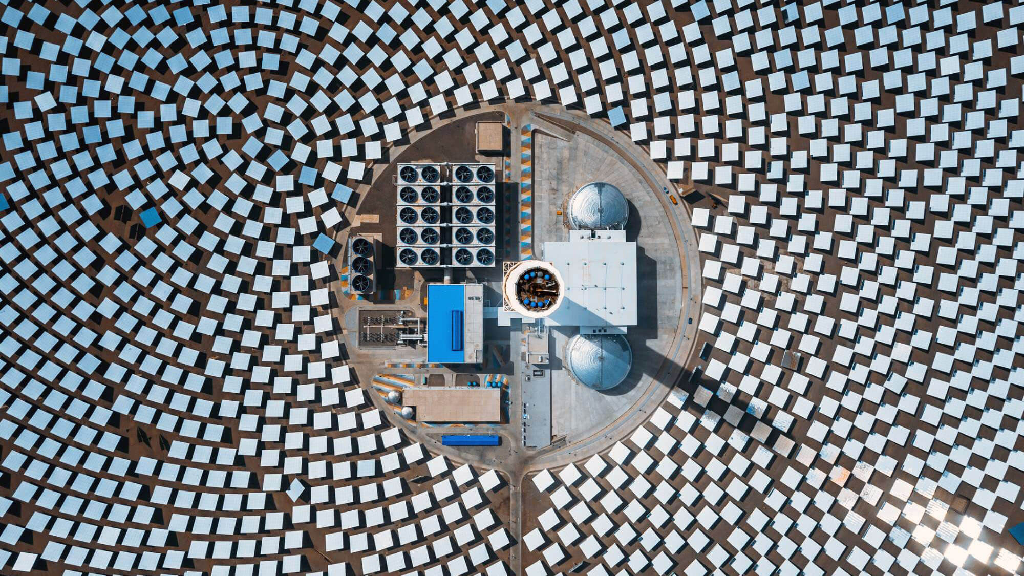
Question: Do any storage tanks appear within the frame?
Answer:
Yes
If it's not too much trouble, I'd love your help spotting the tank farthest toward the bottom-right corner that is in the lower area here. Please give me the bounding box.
[563,328,632,390]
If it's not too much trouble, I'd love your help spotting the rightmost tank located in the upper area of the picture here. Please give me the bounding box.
[565,181,628,230]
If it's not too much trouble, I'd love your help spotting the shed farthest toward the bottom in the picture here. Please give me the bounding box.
[442,434,500,446]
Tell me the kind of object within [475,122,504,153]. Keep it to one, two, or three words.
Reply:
building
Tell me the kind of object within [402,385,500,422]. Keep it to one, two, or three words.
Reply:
building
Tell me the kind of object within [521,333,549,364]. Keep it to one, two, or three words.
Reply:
house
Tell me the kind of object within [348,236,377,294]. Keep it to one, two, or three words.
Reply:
cooling tower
